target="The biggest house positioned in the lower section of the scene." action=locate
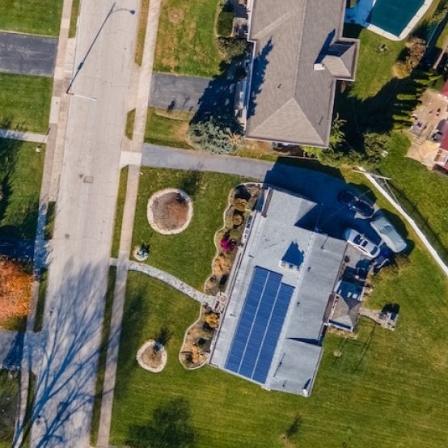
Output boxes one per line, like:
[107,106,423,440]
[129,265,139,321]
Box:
[207,187,349,398]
